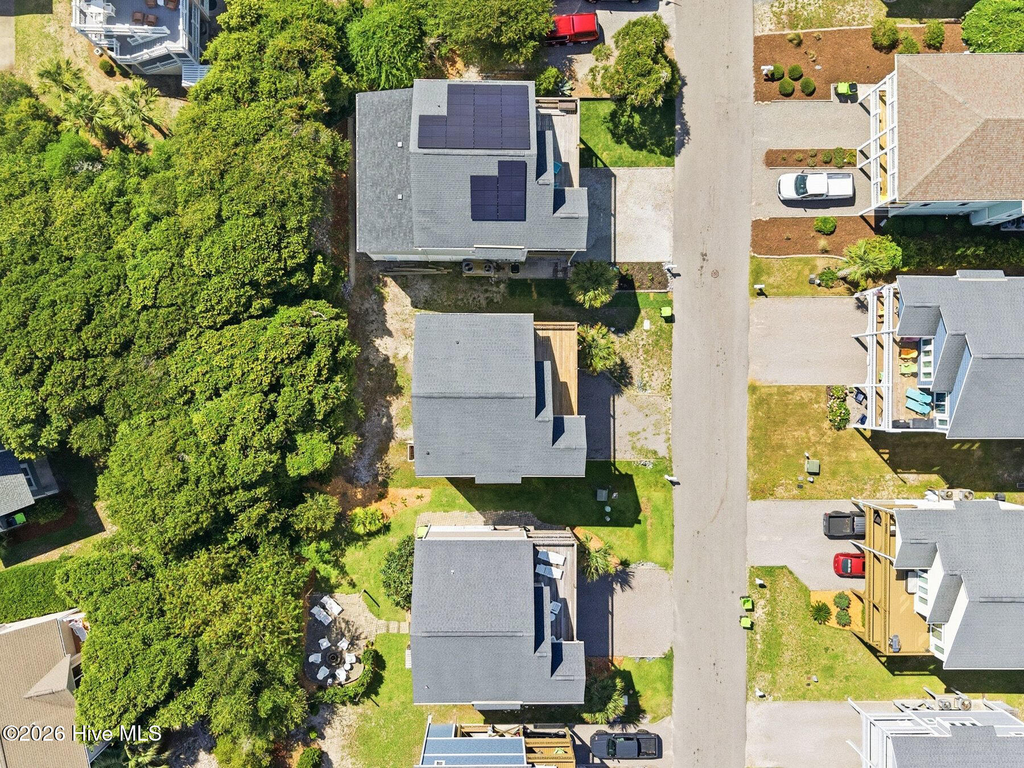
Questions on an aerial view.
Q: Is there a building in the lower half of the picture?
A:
Yes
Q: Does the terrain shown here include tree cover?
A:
Yes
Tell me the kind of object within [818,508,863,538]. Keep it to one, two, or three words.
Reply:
truck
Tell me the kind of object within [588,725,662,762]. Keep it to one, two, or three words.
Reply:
truck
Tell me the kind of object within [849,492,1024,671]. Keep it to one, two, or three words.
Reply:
house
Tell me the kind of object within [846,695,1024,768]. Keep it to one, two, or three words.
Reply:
house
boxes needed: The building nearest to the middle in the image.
[412,313,587,484]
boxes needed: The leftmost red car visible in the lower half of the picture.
[826,550,863,576]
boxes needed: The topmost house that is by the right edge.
[856,53,1024,228]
